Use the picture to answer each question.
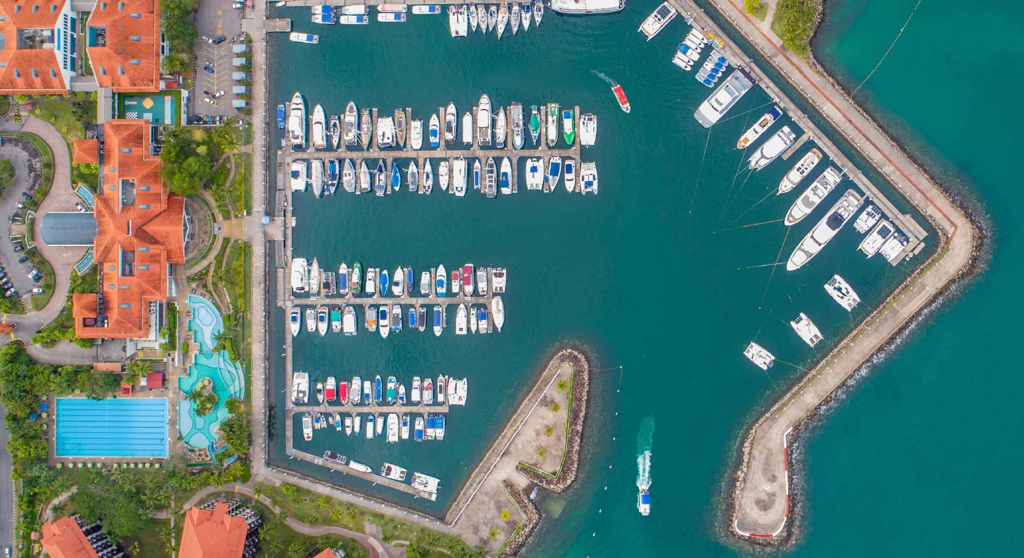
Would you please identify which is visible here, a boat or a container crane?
boat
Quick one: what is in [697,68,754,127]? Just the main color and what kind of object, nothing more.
white ship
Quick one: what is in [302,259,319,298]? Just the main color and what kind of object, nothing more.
white boat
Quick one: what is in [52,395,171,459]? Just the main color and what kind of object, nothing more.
blue swimming pool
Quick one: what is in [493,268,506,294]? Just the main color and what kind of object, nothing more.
white boat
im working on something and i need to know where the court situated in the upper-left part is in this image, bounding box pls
[114,88,182,127]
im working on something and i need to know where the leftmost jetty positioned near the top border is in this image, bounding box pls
[267,18,292,32]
